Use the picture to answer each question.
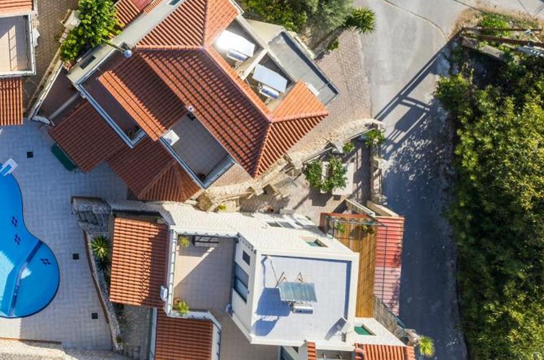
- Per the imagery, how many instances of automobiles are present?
0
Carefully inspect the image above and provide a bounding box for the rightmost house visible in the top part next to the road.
[43,0,338,204]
